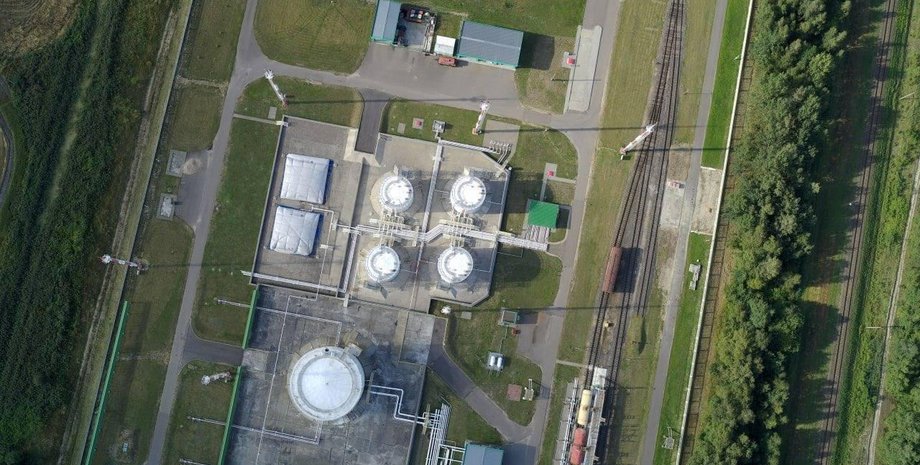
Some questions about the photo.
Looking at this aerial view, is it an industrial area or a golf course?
industrial area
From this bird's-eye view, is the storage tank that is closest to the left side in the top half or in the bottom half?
bottom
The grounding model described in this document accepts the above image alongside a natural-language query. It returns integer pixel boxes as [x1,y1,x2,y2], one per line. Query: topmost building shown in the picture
[372,0,402,46]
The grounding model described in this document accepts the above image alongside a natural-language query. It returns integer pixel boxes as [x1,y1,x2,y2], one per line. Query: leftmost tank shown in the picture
[287,321,373,429]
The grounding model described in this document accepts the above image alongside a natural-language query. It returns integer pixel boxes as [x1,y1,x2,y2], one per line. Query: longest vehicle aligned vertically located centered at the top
[423,16,437,51]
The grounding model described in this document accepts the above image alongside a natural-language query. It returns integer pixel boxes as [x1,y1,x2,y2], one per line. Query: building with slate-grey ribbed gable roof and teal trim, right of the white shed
[459,22,524,73]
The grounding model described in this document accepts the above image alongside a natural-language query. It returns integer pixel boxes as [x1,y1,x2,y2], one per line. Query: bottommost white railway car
[578,388,593,426]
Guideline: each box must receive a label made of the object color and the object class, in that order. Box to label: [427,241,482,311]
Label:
white storage tank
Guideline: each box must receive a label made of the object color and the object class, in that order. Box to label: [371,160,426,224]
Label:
white storage tank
